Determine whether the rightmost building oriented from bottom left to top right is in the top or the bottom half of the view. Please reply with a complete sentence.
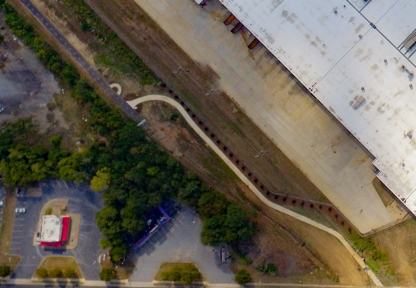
The rightmost building oriented from bottom left to top right is in the bottom half of the image.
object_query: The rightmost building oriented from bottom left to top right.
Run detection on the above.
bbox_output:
[132,204,172,250]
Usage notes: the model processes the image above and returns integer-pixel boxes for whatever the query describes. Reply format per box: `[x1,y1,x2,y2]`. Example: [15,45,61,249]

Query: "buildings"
[39,214,70,247]
[197,0,416,217]
[132,204,172,250]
